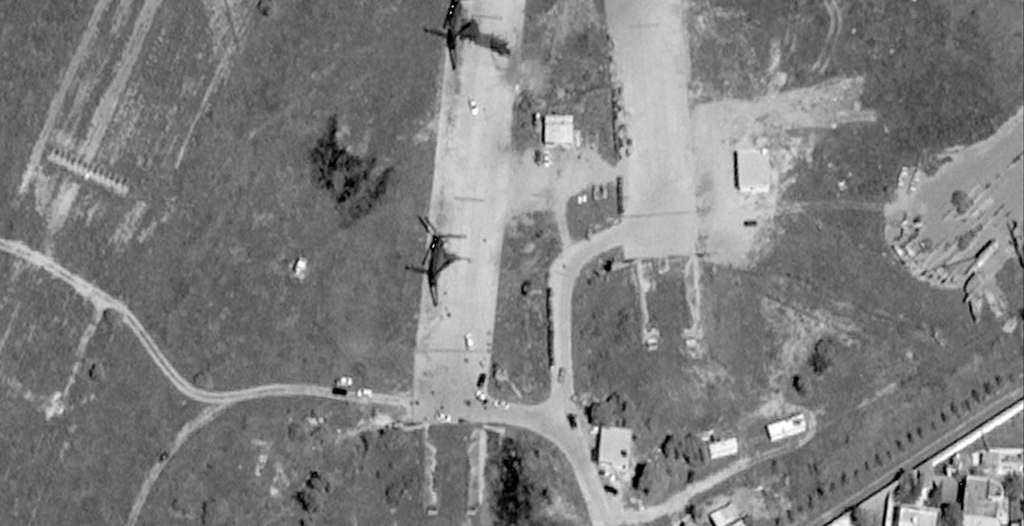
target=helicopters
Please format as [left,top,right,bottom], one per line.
[426,0,473,63]
[407,215,467,303]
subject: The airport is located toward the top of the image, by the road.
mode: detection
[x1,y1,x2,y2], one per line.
[413,0,758,412]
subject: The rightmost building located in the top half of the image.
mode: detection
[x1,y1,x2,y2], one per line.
[737,150,770,191]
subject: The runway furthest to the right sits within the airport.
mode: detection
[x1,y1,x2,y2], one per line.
[607,0,699,258]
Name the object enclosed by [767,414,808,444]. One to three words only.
building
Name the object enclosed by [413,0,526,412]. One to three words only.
runway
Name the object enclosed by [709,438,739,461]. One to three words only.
house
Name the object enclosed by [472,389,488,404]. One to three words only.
vehicle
